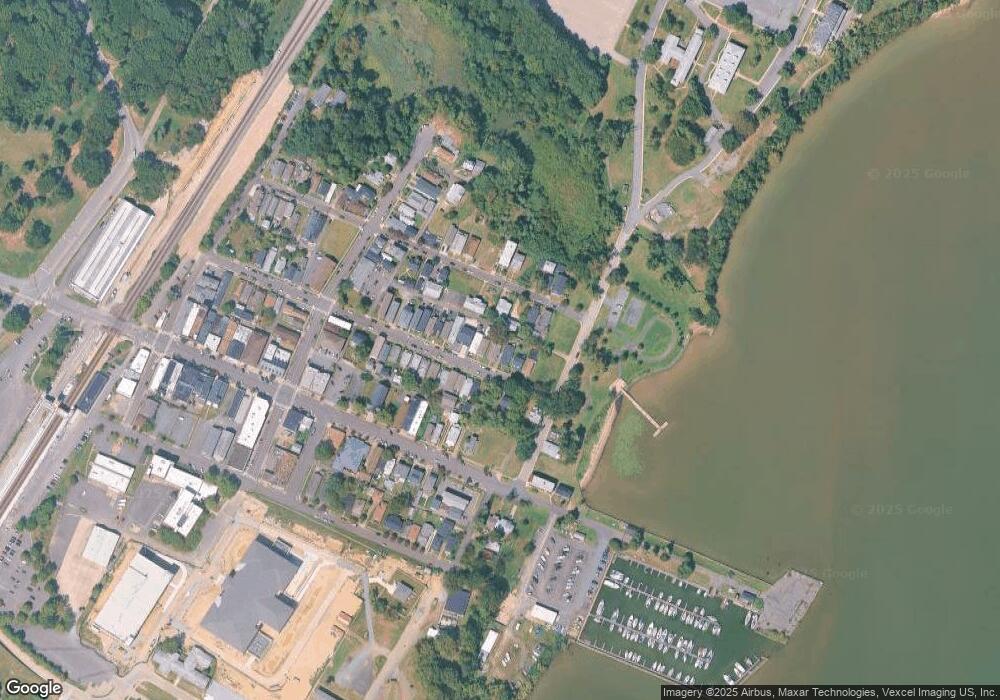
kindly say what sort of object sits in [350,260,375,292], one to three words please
building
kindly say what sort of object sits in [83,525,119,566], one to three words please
building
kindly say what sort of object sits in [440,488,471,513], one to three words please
house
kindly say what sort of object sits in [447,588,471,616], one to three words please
house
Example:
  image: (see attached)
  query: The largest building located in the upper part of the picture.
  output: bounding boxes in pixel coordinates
[71,197,152,302]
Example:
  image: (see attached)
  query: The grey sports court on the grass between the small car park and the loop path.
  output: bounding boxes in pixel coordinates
[619,294,648,330]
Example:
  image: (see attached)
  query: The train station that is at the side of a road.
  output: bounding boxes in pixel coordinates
[0,373,107,523]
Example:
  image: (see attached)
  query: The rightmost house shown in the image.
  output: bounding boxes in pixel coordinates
[812,4,848,52]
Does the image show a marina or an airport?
marina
